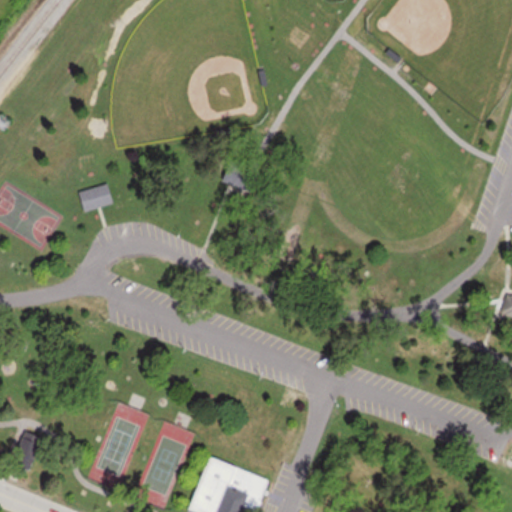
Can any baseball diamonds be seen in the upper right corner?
Yes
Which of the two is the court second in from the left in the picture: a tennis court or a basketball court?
tennis court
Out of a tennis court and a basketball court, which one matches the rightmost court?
tennis court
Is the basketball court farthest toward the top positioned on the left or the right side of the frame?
left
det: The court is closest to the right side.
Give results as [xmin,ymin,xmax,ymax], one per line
[134,422,195,508]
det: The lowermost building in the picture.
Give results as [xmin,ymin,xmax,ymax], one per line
[189,457,269,512]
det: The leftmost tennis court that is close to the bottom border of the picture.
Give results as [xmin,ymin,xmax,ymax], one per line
[88,403,149,490]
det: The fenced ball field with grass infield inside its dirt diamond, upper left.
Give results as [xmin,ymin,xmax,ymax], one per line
[111,0,268,148]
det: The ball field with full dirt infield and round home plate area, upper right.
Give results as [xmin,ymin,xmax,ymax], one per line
[366,0,512,120]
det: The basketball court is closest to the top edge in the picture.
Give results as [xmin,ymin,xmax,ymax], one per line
[0,180,65,252]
